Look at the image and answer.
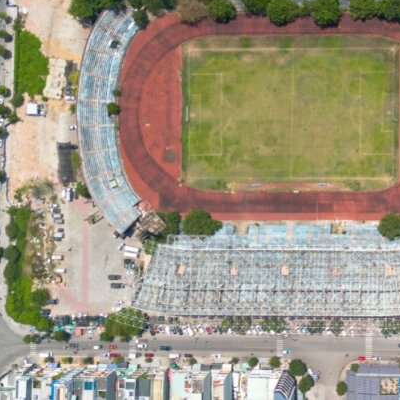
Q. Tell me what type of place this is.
sports ground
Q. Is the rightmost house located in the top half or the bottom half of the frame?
bottom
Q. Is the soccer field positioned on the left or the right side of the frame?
right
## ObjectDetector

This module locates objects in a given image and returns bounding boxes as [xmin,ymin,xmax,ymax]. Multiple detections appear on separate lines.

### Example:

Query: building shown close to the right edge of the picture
[345,361,400,400]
